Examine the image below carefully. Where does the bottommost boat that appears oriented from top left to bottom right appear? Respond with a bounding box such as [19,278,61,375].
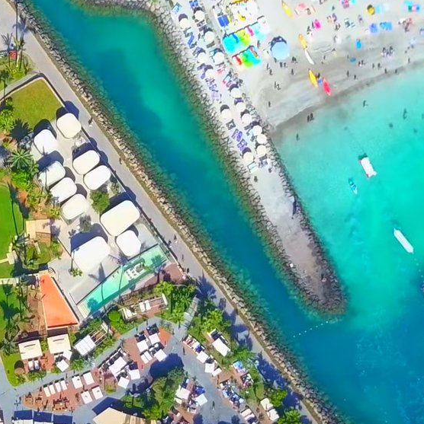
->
[393,227,416,254]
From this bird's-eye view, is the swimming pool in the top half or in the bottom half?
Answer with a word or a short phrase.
bottom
